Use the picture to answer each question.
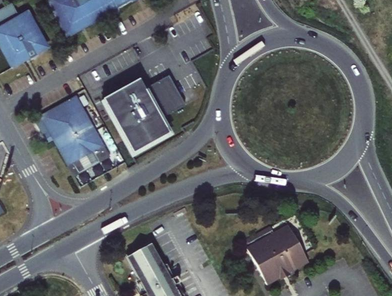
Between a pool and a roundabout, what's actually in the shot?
roundabout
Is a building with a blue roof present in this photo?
Yes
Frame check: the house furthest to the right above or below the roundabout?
below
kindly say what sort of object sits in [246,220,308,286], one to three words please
house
